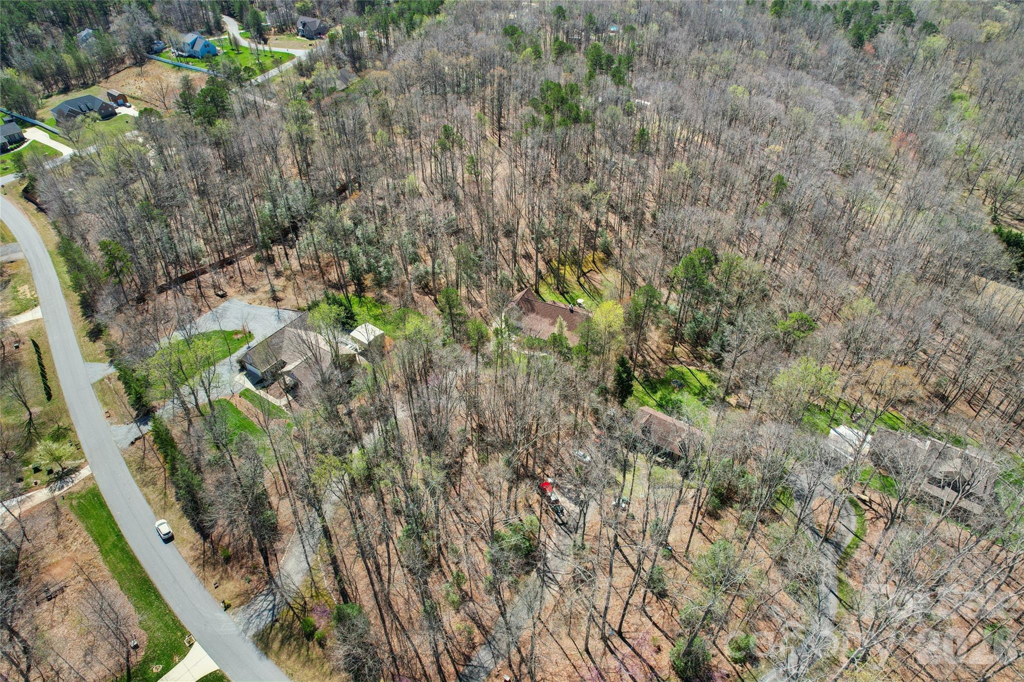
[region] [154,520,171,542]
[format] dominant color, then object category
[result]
white car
